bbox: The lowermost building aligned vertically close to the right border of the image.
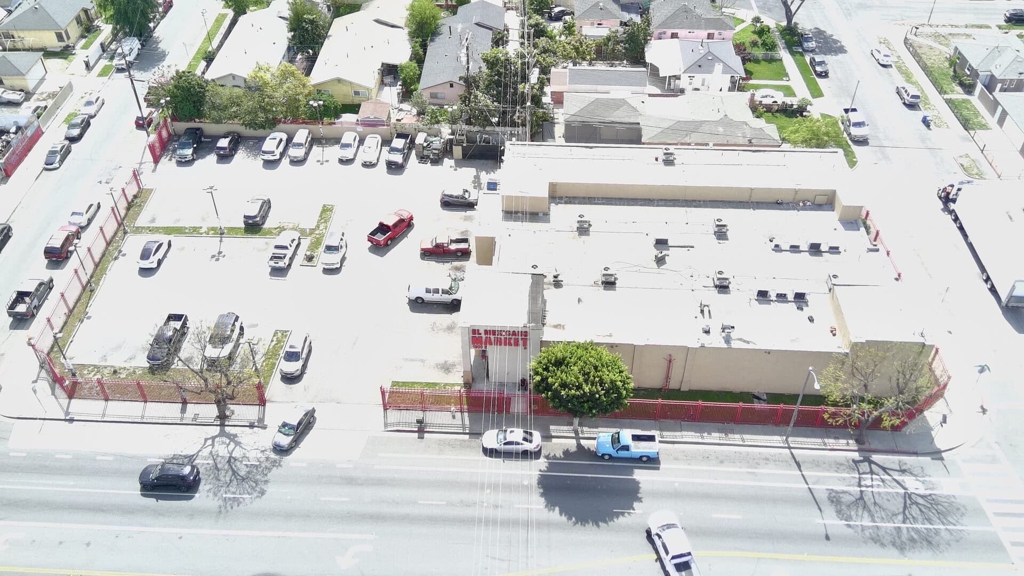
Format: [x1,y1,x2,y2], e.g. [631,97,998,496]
[995,94,1024,160]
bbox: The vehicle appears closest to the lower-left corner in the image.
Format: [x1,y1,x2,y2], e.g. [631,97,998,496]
[137,462,204,493]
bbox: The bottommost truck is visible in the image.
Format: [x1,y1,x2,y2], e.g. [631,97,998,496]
[650,522,703,576]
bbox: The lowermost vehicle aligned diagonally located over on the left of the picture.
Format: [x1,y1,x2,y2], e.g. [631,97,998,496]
[270,403,323,453]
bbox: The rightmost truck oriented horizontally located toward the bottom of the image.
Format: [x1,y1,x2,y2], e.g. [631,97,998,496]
[594,432,662,462]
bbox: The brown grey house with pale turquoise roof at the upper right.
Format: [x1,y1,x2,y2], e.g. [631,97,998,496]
[955,42,1024,93]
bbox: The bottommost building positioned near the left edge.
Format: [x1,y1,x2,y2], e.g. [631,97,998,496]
[0,52,46,94]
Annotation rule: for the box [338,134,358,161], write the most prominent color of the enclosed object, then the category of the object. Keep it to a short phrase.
white car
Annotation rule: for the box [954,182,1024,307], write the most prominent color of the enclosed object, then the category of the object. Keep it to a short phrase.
white trailer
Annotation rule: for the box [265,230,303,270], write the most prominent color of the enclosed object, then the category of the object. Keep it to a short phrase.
white truck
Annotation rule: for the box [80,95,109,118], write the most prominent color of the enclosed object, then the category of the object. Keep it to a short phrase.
white car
